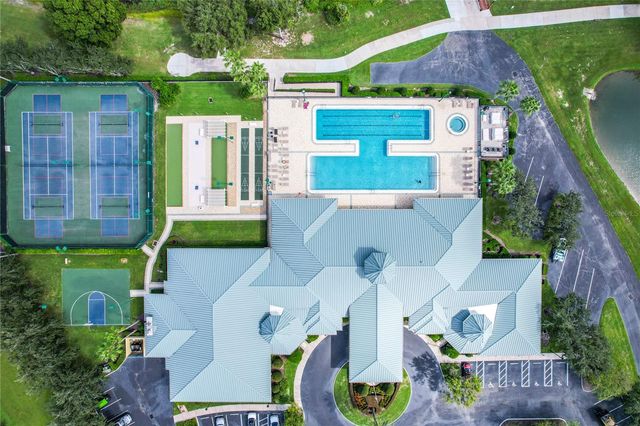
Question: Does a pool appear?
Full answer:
Yes, a pool appears in the view.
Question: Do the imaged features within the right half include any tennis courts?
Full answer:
No, no tennis court is visible within the right half.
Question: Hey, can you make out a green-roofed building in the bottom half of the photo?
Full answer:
No, I see no green-roofed building in the bottom half of the photo.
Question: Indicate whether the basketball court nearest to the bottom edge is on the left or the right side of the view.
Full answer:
The basketball court nearest to the bottom edge appears in the left half of the scene.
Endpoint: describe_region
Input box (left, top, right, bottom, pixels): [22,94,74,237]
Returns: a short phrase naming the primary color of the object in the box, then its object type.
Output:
blue tennis court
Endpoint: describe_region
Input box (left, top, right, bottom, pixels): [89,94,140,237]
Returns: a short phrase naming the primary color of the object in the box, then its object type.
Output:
blue tennis court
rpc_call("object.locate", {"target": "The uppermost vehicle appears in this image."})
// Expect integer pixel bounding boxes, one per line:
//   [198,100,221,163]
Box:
[553,240,569,265]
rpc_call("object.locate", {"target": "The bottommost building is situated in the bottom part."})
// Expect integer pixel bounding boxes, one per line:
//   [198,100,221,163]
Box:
[144,198,542,402]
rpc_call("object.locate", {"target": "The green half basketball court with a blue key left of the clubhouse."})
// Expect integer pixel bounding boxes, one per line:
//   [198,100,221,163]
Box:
[62,269,130,325]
